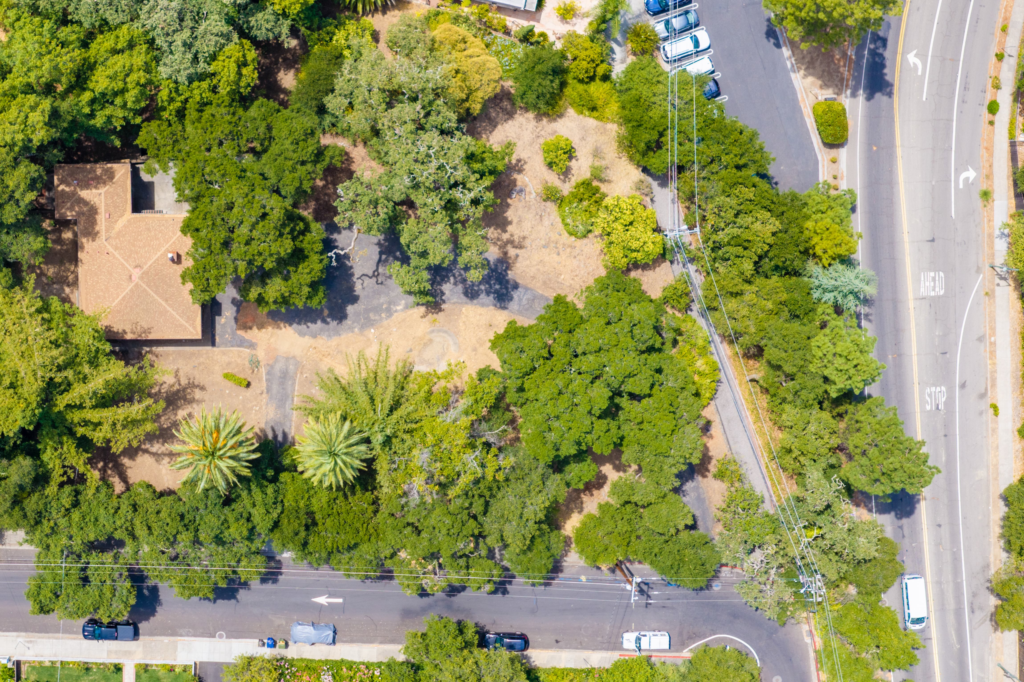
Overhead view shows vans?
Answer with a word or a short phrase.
Yes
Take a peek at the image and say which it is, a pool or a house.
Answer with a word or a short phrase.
house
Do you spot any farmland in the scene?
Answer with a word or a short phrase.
No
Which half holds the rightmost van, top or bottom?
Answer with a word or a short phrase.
bottom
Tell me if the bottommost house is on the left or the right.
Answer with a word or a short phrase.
left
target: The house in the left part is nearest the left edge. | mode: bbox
[53,162,224,343]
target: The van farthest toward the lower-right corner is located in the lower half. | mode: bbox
[897,570,930,628]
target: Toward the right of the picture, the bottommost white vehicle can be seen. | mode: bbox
[620,628,673,659]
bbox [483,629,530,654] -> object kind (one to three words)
car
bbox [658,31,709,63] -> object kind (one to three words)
car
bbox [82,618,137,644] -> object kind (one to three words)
truck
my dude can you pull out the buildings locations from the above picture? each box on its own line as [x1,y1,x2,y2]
[474,0,538,12]
[53,162,224,343]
